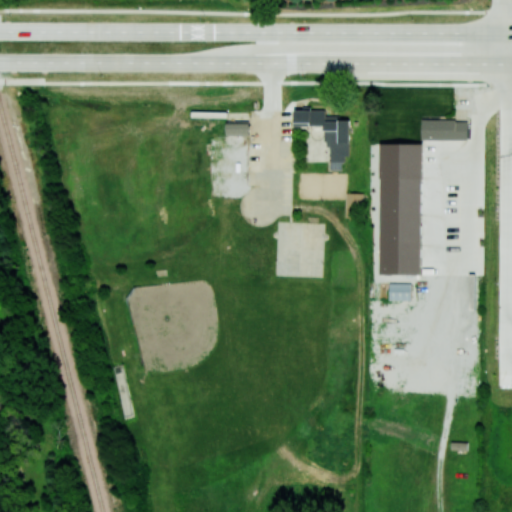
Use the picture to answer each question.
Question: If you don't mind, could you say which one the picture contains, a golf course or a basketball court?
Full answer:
The one in the frame is a basketball court.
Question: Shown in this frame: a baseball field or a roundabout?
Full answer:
This aerial view contains a baseball field.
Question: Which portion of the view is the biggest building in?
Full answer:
Look in the right portion of the view to spot the biggest building.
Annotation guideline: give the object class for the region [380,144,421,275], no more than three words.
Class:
building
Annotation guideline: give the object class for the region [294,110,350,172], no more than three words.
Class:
house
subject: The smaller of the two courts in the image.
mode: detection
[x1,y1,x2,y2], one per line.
[300,173,348,200]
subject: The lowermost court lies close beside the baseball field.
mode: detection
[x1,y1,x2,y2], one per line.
[273,222,330,278]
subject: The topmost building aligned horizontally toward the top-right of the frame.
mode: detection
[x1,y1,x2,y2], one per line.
[422,120,470,140]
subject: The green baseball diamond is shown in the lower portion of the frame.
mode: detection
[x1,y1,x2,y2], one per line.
[124,250,330,488]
